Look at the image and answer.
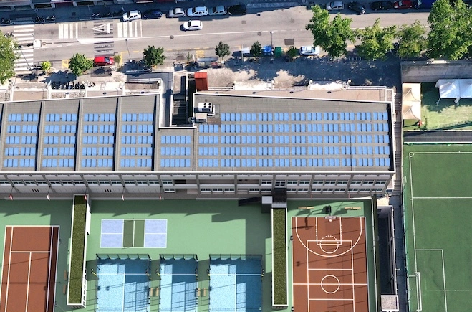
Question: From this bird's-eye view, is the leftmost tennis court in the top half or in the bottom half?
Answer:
bottom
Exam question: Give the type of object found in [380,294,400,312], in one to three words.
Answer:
shed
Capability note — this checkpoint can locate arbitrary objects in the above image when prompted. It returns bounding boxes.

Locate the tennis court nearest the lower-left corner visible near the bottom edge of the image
[0,226,60,312]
